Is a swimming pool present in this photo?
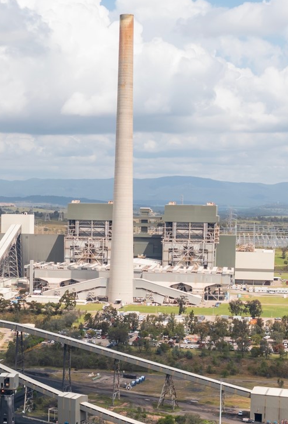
No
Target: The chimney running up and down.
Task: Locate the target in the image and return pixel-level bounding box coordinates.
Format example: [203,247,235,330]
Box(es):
[110,13,135,305]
